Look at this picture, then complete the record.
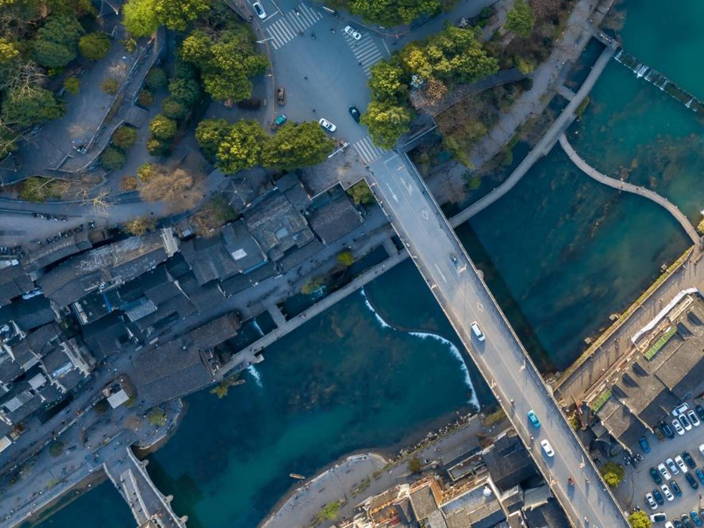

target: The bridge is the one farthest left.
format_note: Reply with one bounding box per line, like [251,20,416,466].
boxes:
[102,445,193,528]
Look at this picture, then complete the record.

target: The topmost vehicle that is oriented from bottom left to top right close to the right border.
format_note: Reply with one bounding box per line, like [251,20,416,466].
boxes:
[672,402,690,421]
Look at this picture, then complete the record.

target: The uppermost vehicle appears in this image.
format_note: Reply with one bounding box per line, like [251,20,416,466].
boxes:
[252,1,266,19]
